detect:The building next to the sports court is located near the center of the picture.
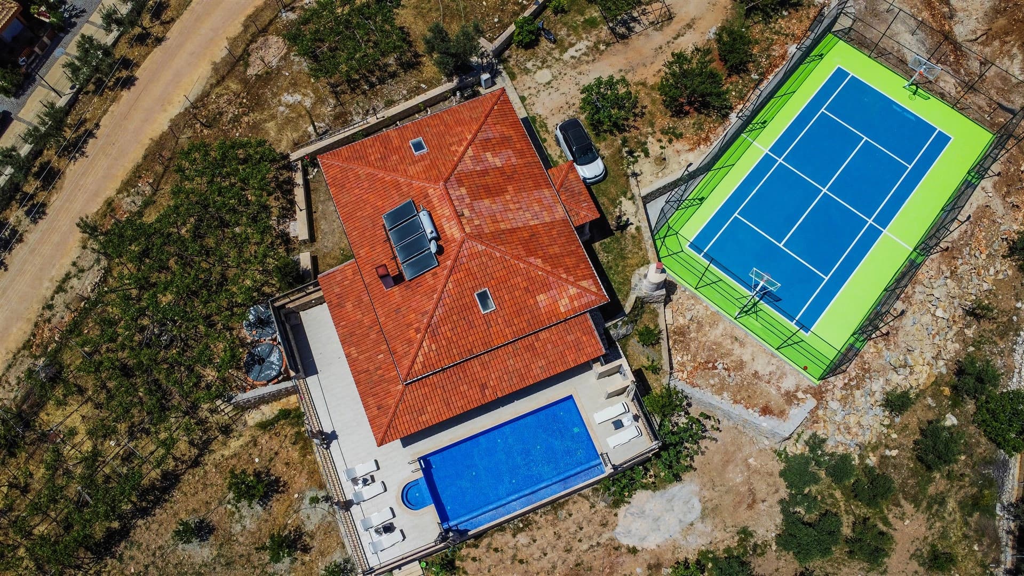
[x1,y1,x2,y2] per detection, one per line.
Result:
[316,86,608,447]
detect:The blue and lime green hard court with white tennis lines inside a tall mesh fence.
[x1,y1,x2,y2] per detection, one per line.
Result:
[654,32,995,386]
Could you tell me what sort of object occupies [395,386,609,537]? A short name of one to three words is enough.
swimming pool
